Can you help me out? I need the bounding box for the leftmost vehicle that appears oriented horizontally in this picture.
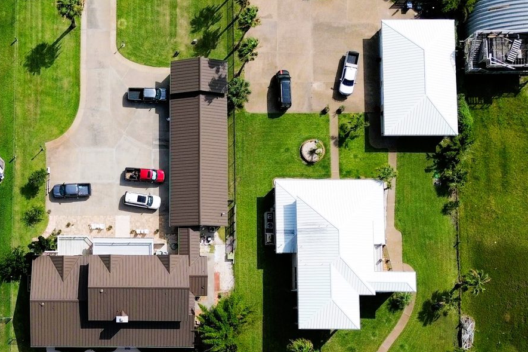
[51,182,92,200]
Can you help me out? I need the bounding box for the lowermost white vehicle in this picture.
[123,192,161,210]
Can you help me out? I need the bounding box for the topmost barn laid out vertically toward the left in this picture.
[169,57,228,226]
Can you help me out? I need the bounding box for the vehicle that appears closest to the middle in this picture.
[275,71,292,110]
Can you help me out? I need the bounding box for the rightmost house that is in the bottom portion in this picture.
[273,179,416,330]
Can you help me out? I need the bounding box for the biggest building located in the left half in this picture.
[30,226,207,348]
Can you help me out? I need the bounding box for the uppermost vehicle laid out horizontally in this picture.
[128,85,168,103]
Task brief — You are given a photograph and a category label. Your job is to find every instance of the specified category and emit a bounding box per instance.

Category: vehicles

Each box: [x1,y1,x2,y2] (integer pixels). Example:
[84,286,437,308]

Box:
[51,182,92,200]
[338,52,359,96]
[128,85,168,103]
[124,167,166,184]
[123,192,161,210]
[275,71,292,110]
